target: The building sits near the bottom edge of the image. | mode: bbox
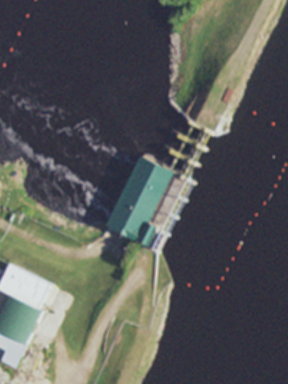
[0,264,60,369]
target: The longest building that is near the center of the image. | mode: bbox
[108,157,174,242]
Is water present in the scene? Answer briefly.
Yes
